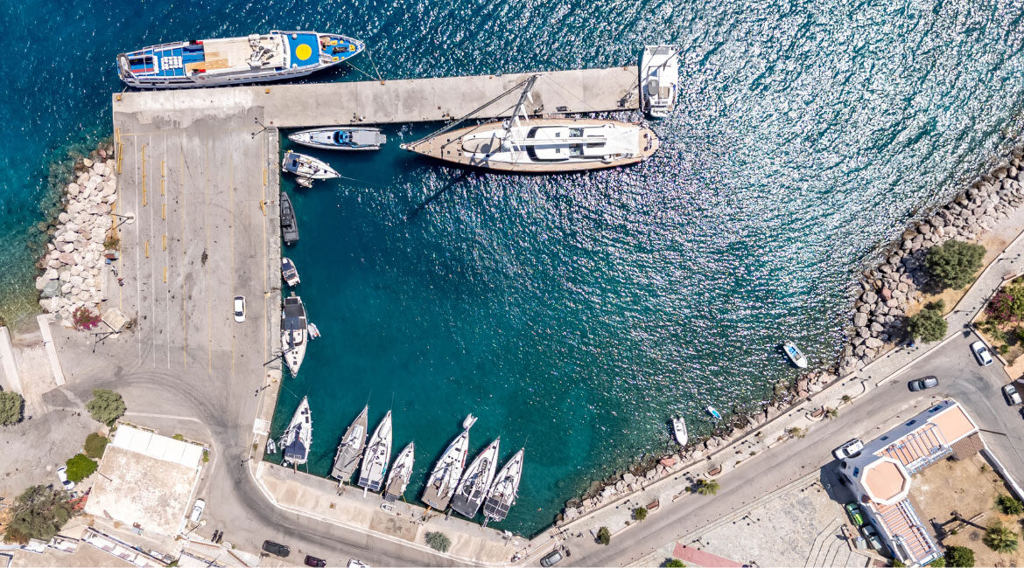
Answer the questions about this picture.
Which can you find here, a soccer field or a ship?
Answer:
ship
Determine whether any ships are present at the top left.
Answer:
Yes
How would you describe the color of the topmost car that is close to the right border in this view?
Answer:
white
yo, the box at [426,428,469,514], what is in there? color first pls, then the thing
white boat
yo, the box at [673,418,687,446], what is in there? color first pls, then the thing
white boat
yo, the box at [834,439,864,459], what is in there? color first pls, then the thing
white car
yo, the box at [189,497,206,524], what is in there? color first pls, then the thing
white car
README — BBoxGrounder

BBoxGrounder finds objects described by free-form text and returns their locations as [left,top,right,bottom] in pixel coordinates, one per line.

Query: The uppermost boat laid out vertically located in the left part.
[280,192,298,244]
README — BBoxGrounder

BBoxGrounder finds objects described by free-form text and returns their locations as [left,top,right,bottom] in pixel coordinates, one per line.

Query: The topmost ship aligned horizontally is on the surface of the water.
[118,30,367,87]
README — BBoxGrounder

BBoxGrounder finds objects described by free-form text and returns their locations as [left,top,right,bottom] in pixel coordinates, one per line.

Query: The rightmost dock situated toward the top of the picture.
[112,66,641,128]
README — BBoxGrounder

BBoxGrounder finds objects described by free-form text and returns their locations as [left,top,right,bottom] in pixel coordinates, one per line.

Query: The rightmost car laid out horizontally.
[907,376,937,391]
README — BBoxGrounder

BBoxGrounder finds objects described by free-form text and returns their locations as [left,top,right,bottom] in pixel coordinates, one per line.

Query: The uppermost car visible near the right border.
[971,339,993,368]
